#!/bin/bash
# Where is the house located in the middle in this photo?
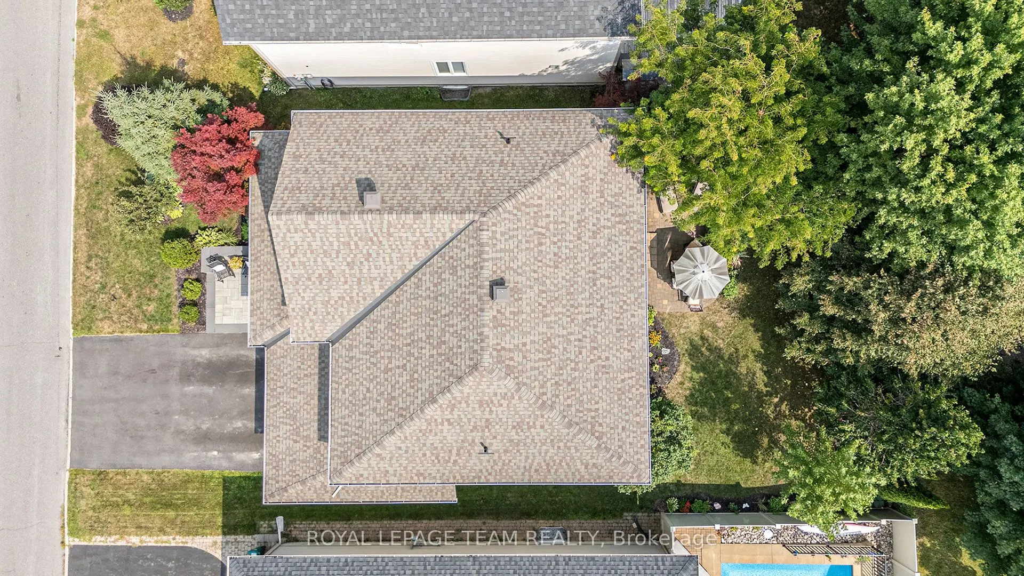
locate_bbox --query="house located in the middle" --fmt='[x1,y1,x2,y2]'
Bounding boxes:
[248,108,650,503]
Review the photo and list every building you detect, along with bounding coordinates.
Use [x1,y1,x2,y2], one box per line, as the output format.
[248,108,650,503]
[229,531,698,576]
[215,0,645,91]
